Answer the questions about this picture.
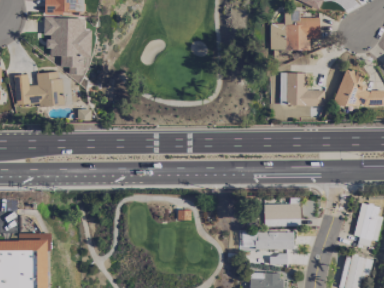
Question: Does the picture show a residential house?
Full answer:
Yes, you can see a residential house in this photo.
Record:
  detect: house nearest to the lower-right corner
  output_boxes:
[340,255,374,288]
